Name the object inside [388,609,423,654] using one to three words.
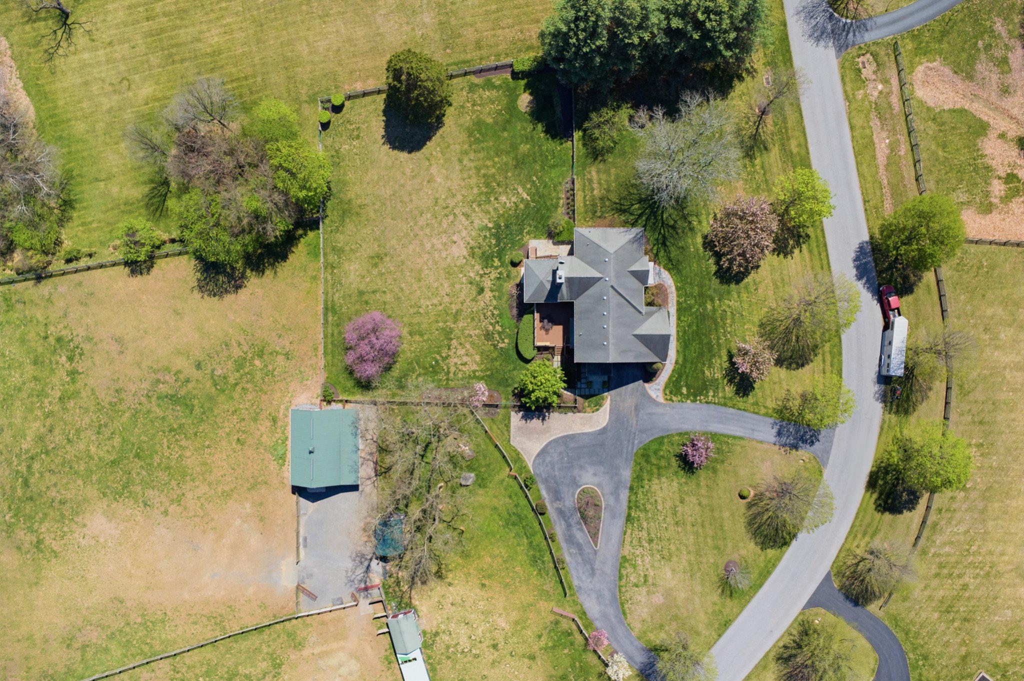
shed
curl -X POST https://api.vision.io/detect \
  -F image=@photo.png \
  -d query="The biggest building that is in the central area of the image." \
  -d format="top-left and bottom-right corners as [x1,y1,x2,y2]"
[524,227,672,363]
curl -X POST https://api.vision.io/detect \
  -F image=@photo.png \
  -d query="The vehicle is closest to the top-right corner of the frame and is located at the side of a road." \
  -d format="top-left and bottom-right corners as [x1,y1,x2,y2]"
[877,284,900,329]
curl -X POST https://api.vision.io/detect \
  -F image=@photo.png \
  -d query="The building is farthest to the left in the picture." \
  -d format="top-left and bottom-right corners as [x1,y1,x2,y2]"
[291,409,360,494]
